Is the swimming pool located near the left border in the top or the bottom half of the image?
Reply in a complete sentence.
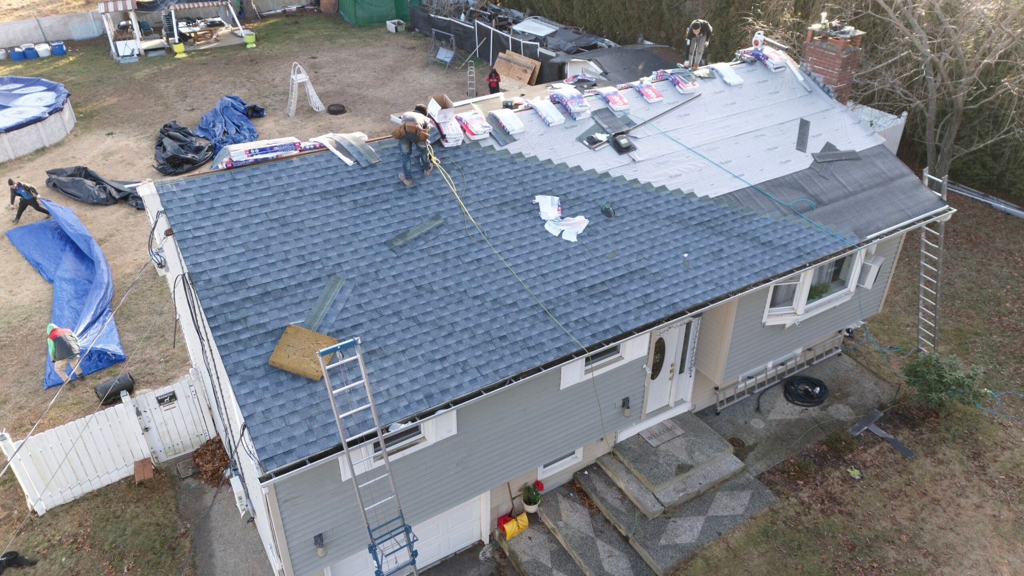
The top half of the photo is where the swimming pool located near the left border is.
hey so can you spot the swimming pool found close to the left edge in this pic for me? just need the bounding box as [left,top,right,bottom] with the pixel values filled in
[0,73,79,165]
